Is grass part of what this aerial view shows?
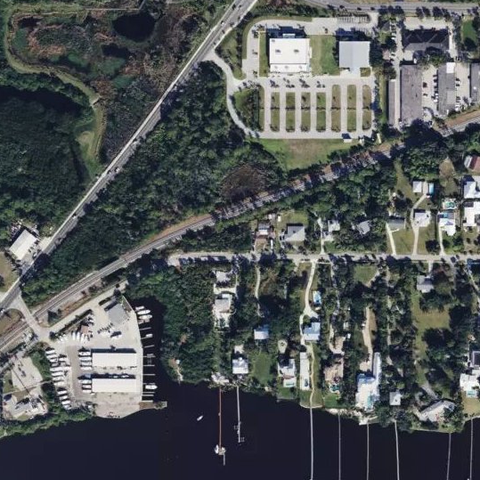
Yes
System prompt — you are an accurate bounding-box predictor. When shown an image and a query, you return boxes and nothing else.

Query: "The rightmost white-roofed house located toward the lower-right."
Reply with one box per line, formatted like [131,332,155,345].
[460,366,480,391]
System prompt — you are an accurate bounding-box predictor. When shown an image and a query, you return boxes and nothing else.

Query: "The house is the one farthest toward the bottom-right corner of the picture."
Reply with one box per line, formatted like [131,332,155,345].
[419,401,456,429]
